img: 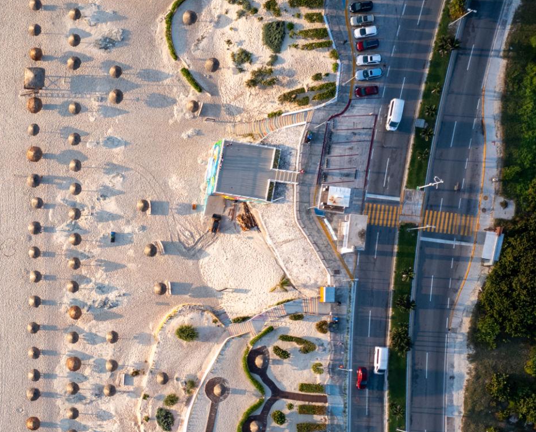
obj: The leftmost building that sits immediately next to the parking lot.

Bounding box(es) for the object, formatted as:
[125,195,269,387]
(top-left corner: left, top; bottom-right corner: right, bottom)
[206,139,298,203]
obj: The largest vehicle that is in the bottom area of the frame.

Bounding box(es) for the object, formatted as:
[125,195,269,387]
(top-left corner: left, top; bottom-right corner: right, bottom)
[371,346,387,374]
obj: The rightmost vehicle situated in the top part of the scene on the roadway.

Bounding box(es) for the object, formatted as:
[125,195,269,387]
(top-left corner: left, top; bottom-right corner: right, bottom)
[383,97,405,133]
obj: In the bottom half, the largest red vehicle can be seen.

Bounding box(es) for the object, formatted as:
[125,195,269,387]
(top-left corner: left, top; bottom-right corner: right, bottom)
[355,367,369,390]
